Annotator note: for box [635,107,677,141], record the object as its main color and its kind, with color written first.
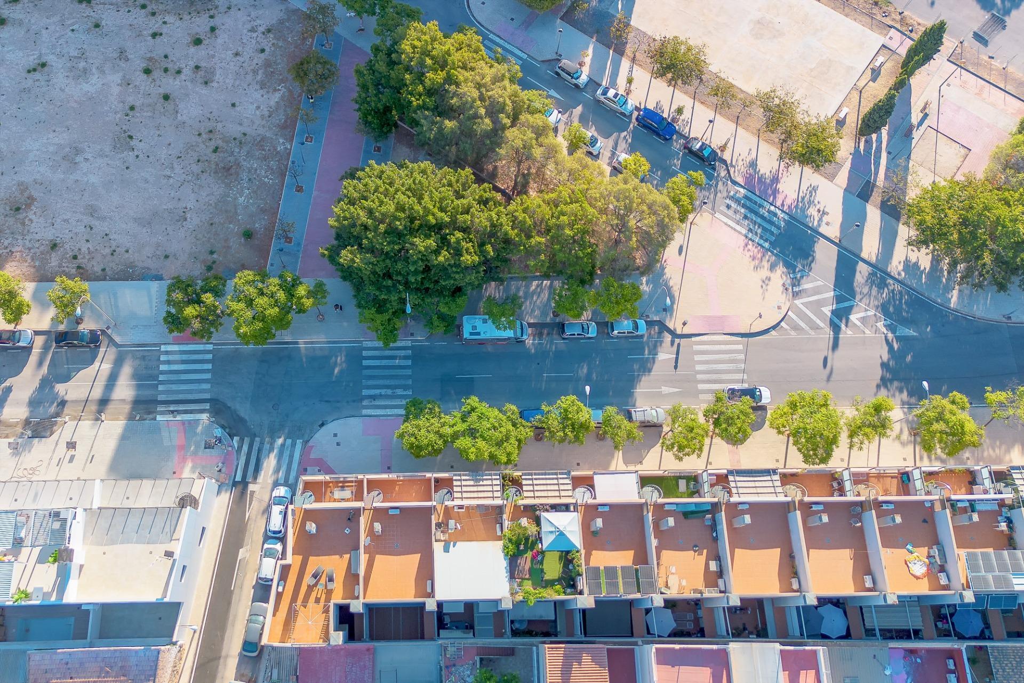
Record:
blue car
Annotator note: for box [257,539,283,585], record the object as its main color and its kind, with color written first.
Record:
white car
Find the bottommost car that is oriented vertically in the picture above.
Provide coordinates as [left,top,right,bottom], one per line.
[242,602,268,658]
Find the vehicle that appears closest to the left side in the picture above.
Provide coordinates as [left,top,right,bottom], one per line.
[0,327,33,348]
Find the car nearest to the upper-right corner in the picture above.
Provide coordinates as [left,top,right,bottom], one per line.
[680,136,721,167]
